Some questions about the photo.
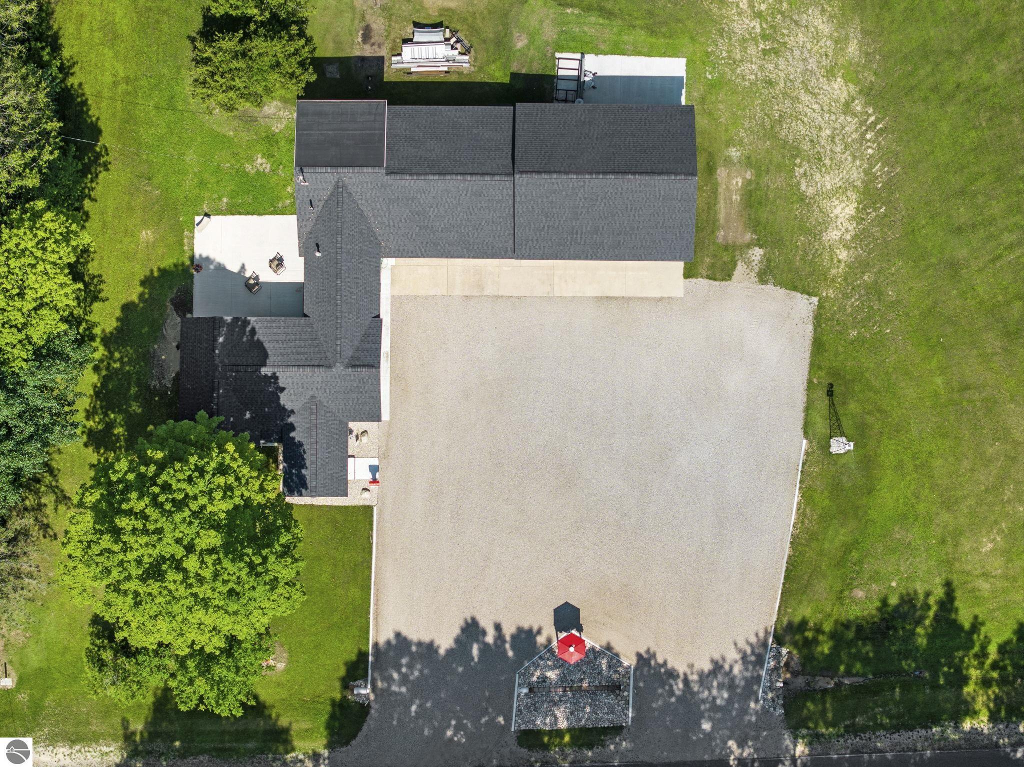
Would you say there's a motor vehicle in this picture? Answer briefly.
No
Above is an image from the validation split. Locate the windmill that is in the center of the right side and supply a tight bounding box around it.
[830,437,854,454]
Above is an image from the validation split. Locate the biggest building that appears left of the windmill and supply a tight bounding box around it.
[179,99,697,498]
